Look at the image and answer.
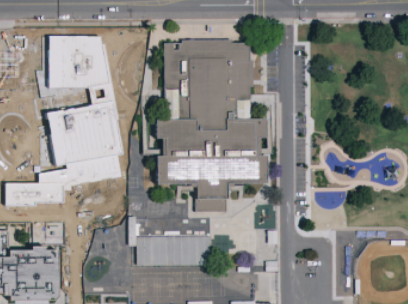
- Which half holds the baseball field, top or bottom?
bottom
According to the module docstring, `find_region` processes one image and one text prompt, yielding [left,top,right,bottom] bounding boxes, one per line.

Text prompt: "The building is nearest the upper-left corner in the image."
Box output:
[5,35,124,206]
